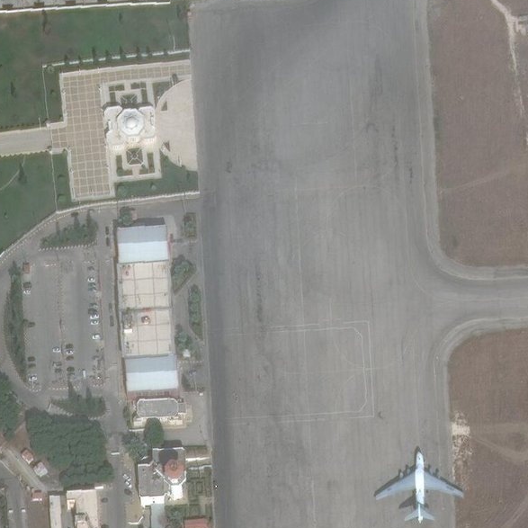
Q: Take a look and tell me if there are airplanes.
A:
Yes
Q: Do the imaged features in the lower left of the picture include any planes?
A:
No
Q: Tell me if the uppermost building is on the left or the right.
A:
left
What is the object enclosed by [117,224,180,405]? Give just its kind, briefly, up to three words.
building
